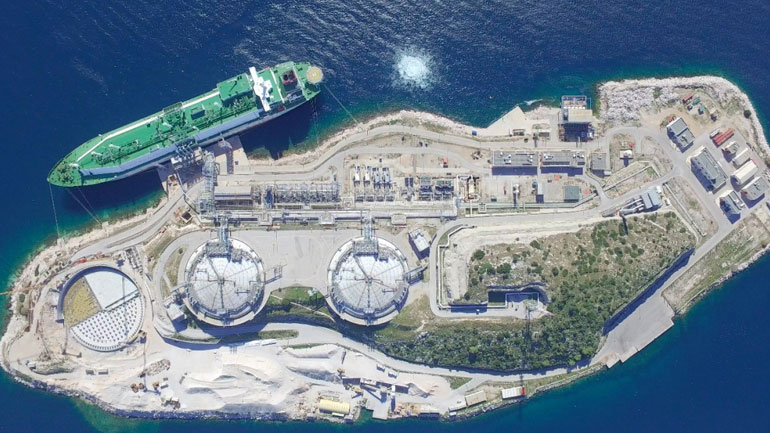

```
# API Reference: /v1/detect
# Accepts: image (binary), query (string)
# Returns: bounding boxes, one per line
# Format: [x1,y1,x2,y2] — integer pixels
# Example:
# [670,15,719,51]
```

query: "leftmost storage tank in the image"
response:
[50,262,144,352]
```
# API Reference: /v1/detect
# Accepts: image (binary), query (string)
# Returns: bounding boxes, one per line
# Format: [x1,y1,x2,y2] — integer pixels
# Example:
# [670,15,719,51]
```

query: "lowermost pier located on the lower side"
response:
[358,383,392,420]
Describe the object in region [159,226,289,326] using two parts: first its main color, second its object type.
white storage tank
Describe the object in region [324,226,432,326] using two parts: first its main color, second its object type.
white storage tank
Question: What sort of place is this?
port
